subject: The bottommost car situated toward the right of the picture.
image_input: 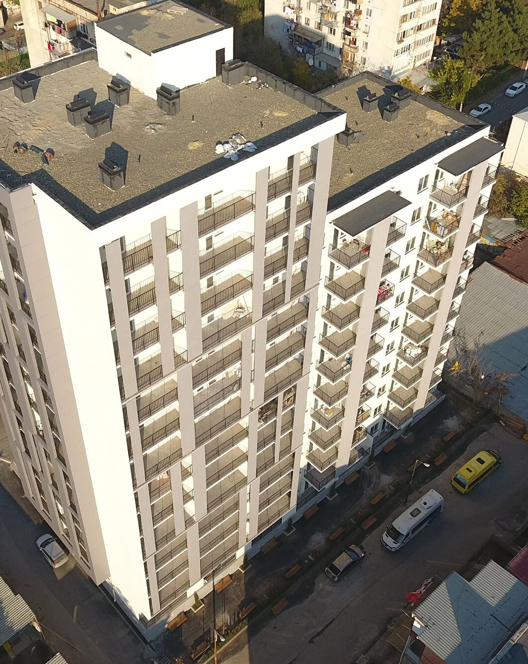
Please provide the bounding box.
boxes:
[318,543,366,586]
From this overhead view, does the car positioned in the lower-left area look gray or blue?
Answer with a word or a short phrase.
gray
